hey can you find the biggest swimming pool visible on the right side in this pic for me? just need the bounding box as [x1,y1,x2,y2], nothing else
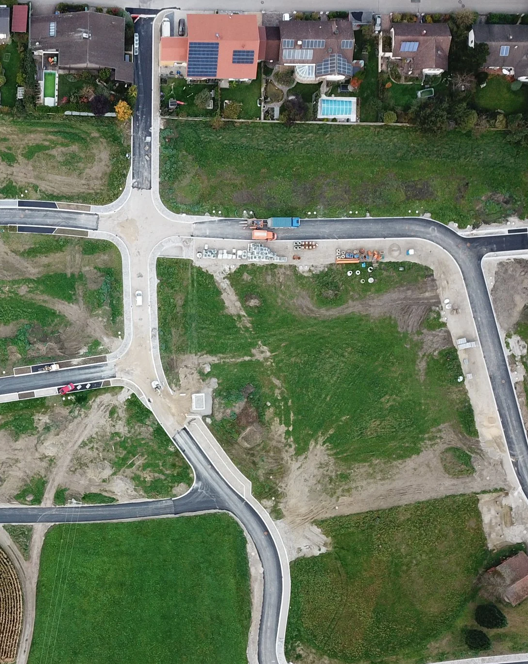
[320,99,352,115]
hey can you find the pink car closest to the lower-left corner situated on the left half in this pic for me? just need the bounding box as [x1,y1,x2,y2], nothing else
[59,382,74,396]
